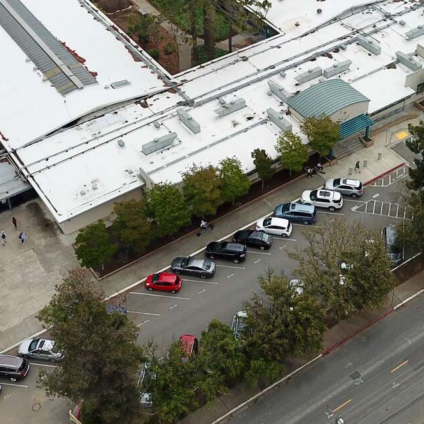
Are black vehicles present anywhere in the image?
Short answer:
Yes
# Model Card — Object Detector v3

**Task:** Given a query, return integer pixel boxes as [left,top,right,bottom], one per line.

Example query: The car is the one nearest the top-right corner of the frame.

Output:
[326,177,365,196]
